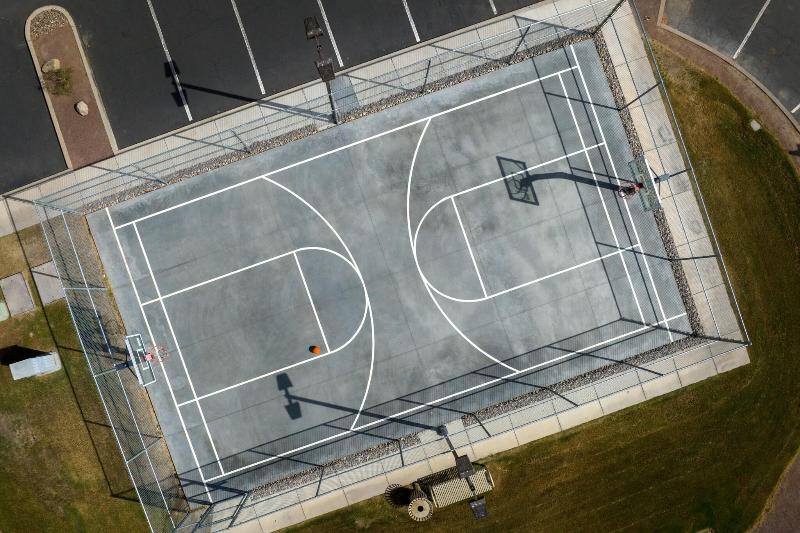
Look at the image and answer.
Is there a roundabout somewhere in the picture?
No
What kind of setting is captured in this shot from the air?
sports ground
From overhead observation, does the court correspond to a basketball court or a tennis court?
basketball court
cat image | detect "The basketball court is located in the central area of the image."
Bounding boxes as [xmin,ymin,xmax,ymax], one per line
[84,38,694,511]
